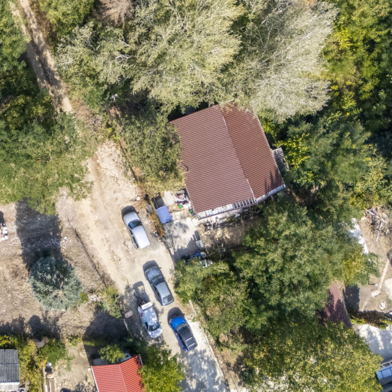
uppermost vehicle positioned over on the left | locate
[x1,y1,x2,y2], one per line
[124,210,151,252]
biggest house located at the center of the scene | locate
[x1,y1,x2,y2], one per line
[164,103,286,219]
